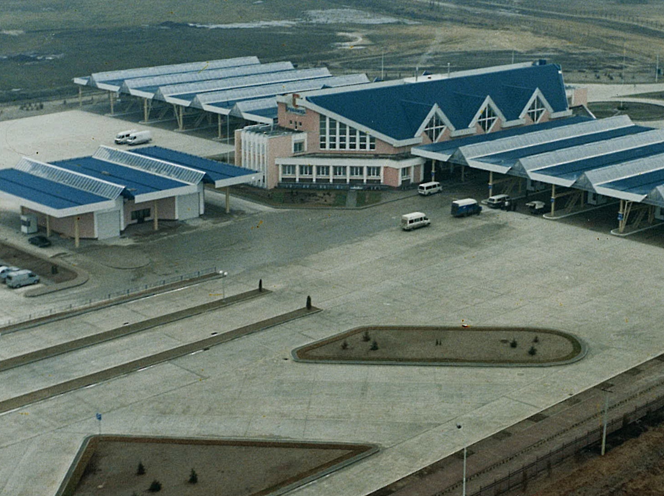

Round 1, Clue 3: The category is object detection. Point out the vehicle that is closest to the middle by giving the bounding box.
[401,210,432,231]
